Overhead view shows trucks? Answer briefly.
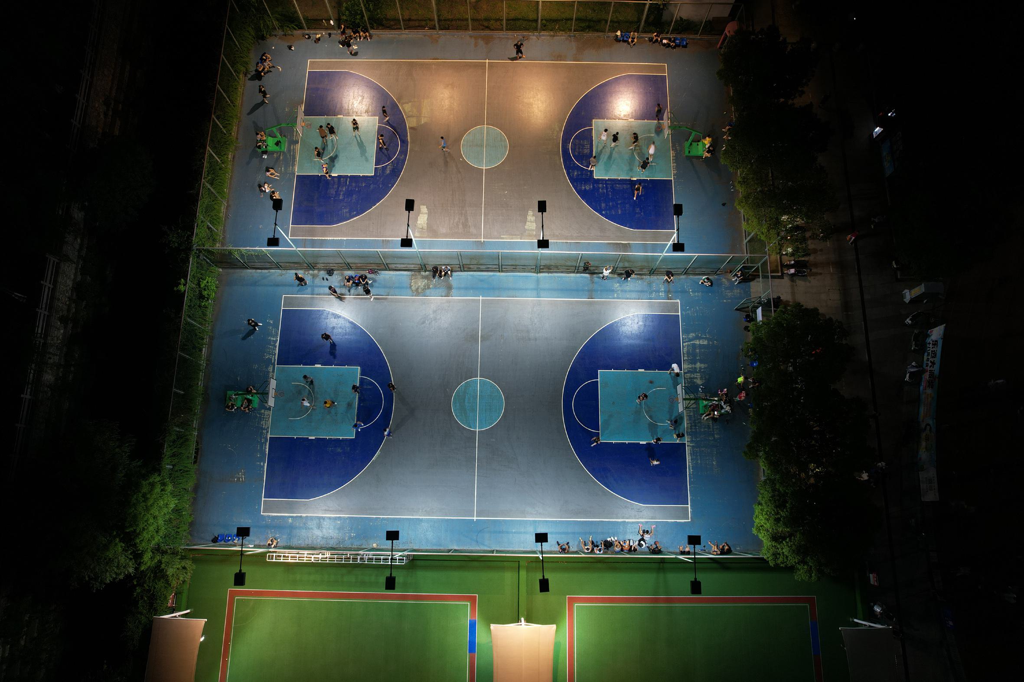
No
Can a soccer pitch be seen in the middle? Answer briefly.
No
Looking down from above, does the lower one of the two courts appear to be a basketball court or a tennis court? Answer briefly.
basketball court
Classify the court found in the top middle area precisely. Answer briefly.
basketball court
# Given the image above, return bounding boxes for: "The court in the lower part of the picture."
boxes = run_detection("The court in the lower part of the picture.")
[180,270,768,552]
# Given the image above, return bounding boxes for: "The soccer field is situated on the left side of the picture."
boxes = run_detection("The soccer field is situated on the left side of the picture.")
[217,590,477,682]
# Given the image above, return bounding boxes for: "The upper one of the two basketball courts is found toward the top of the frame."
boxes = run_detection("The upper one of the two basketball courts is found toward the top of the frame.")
[217,37,747,273]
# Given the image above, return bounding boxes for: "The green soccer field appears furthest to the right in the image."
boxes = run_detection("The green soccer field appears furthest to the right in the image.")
[567,595,823,682]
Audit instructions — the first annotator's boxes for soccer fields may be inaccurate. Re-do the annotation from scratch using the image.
[567,595,823,682]
[217,590,477,682]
